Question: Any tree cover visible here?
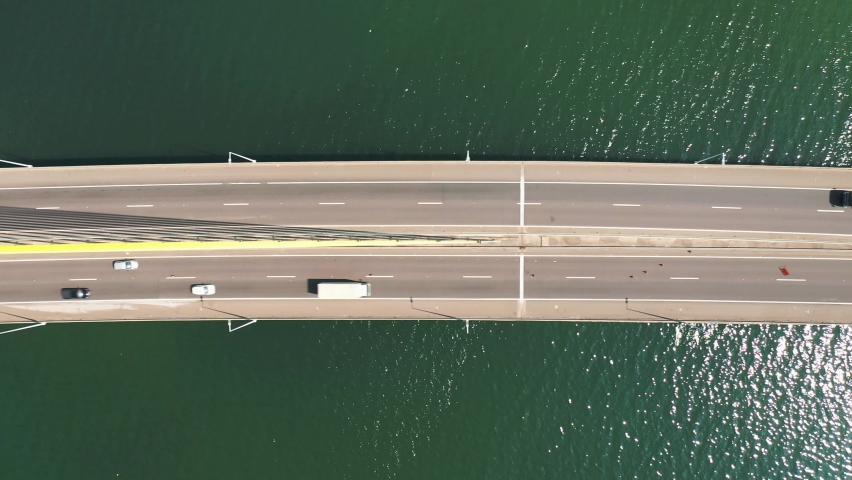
No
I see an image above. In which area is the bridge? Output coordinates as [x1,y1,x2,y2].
[0,161,852,324]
